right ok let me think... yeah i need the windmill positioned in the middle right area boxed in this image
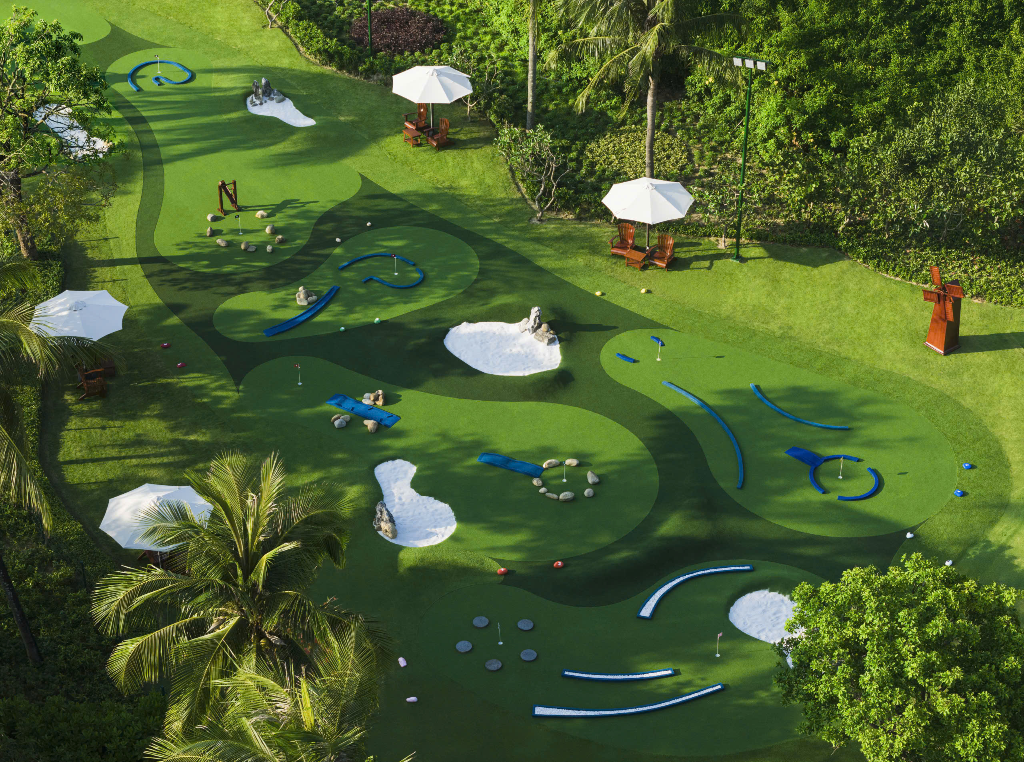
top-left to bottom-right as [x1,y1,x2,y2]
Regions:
[914,266,971,355]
